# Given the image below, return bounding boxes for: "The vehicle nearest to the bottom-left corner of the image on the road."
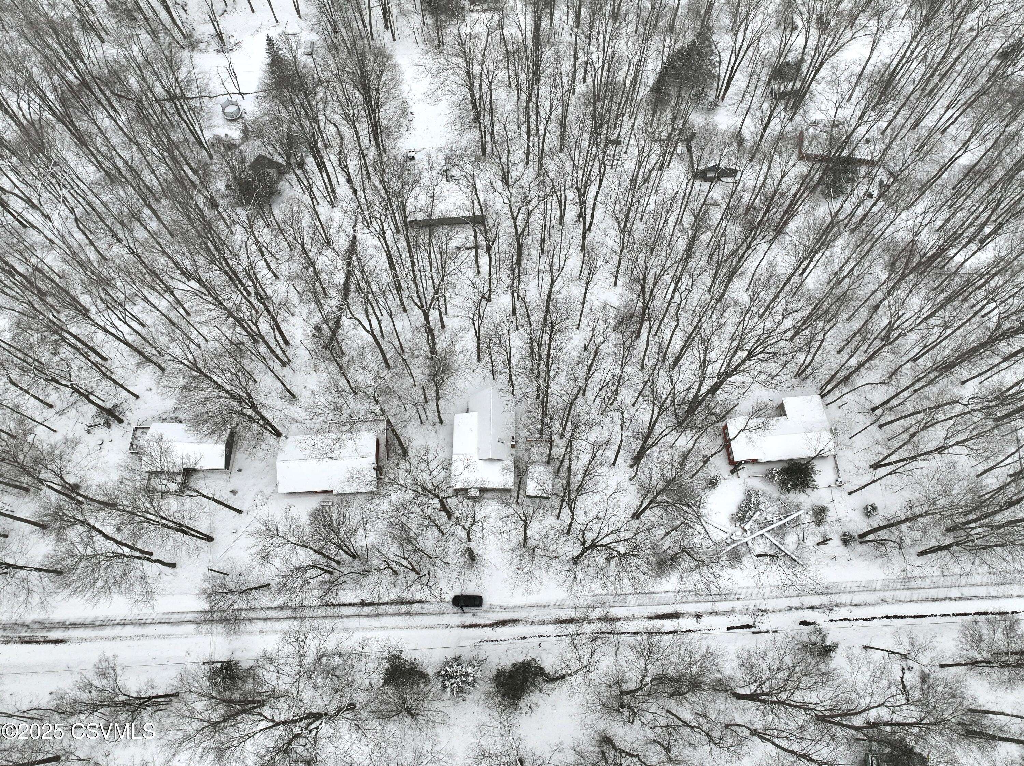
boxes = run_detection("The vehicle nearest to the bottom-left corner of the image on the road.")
[452,593,483,614]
